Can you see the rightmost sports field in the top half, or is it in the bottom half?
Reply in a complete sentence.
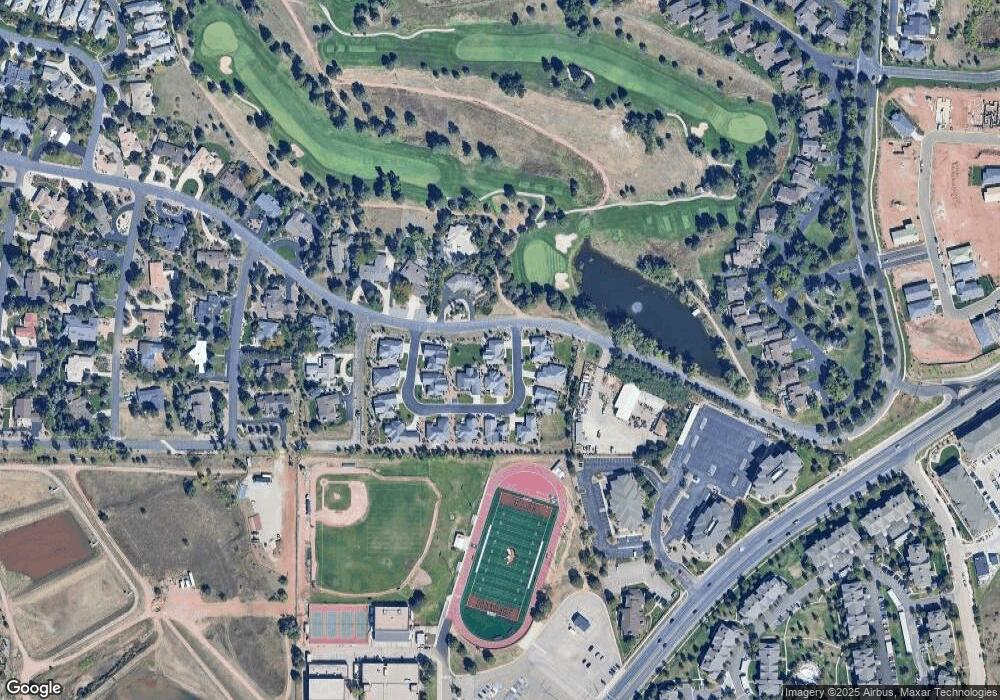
It is in the bottom half that the rightmost sports field appears.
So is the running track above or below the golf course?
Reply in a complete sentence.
Within the scene, the running track can be found below the golf course.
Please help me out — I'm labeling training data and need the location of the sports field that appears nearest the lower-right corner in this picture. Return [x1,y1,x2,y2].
[463,488,557,638]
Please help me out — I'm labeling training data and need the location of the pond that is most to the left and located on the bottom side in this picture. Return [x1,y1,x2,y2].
[0,512,94,580]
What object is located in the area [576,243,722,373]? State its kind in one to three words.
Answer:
pond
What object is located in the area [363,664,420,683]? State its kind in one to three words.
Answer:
building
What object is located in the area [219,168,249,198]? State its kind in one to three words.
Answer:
house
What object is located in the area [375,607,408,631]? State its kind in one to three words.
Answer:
building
